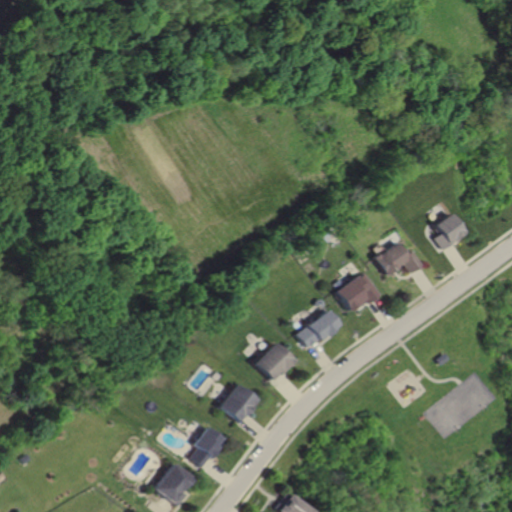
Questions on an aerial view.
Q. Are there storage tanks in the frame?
No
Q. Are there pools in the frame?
Yes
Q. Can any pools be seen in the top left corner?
No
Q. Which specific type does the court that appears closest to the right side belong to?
basketball court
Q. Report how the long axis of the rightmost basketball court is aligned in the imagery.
diagonally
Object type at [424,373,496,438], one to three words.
basketball court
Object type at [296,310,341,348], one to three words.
house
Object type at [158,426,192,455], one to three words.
swimming pool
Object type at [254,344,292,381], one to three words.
house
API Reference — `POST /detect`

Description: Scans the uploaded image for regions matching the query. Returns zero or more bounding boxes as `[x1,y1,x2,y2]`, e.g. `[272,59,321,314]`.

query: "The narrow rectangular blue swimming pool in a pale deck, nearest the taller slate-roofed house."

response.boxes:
[187,365,214,395]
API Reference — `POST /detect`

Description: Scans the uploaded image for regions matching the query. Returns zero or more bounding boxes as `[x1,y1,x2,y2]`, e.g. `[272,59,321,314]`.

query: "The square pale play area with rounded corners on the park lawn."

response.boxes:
[387,368,426,408]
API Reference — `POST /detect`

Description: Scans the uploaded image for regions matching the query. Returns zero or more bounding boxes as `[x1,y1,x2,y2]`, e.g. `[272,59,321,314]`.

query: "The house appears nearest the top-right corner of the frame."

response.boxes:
[432,214,464,250]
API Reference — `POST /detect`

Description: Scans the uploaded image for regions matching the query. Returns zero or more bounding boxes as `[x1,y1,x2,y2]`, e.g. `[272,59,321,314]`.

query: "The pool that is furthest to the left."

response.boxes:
[124,448,160,482]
